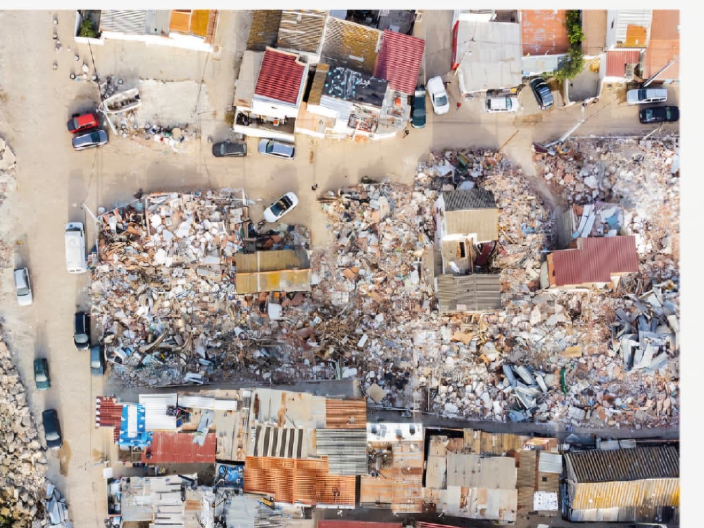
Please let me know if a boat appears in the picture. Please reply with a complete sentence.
Yes, the picture does show a boat.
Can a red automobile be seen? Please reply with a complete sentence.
Yes, this view includes a red automobile.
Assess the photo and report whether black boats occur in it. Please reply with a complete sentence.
No, this view has no black boat in it.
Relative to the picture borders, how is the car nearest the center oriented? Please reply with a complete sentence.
The car nearest the center runs at an angle in the image.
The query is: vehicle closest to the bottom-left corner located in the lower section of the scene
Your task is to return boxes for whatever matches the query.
[42,408,63,448]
